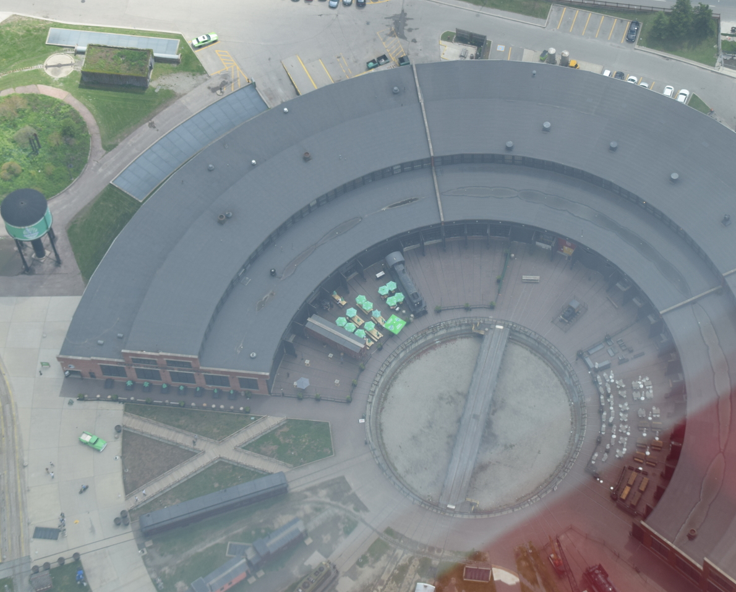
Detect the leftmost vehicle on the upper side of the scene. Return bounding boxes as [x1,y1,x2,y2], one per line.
[191,33,217,48]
